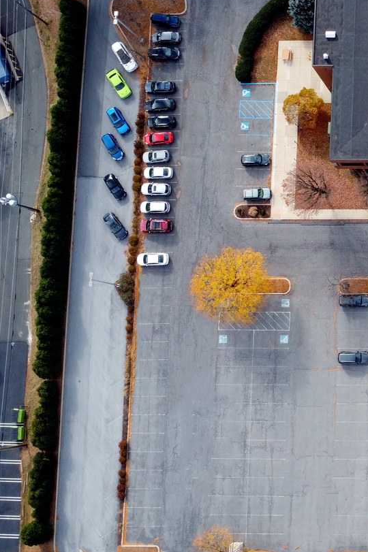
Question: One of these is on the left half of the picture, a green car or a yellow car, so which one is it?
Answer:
green car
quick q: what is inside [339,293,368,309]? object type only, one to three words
car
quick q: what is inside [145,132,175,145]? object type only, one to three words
vehicle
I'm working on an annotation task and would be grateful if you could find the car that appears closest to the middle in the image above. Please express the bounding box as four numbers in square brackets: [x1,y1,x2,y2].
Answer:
[138,253,170,266]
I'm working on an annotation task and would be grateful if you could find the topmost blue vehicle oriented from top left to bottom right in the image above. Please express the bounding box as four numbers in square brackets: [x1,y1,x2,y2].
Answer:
[107,105,131,135]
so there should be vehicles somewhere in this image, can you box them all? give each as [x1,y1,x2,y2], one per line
[108,69,131,98]
[141,218,175,233]
[144,166,175,180]
[149,47,181,61]
[138,253,170,266]
[101,132,123,162]
[242,187,272,200]
[150,13,181,28]
[339,293,368,309]
[114,42,137,72]
[144,150,171,163]
[337,351,368,366]
[145,132,175,145]
[240,153,271,168]
[147,115,177,129]
[141,183,173,196]
[103,172,127,202]
[107,105,131,135]
[153,31,182,44]
[103,211,128,242]
[140,200,171,214]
